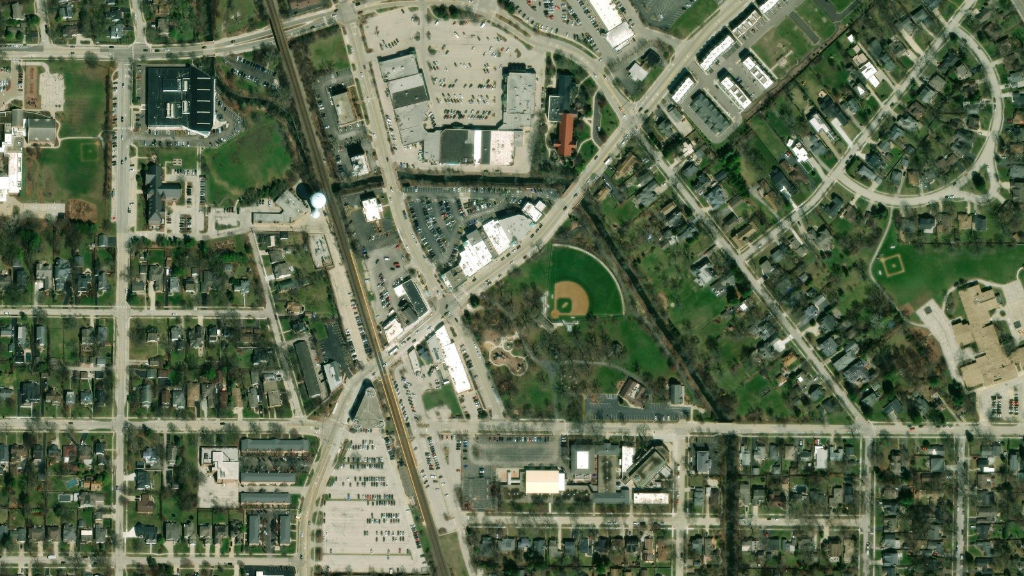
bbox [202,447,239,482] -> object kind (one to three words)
building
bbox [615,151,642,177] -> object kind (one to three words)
house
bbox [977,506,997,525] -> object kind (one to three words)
house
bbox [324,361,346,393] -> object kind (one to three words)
building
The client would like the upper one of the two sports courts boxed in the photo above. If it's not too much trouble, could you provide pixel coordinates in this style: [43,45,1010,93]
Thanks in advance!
[40,72,64,110]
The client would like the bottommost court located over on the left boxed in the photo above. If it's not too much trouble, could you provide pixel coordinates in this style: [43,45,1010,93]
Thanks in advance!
[0,195,65,219]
